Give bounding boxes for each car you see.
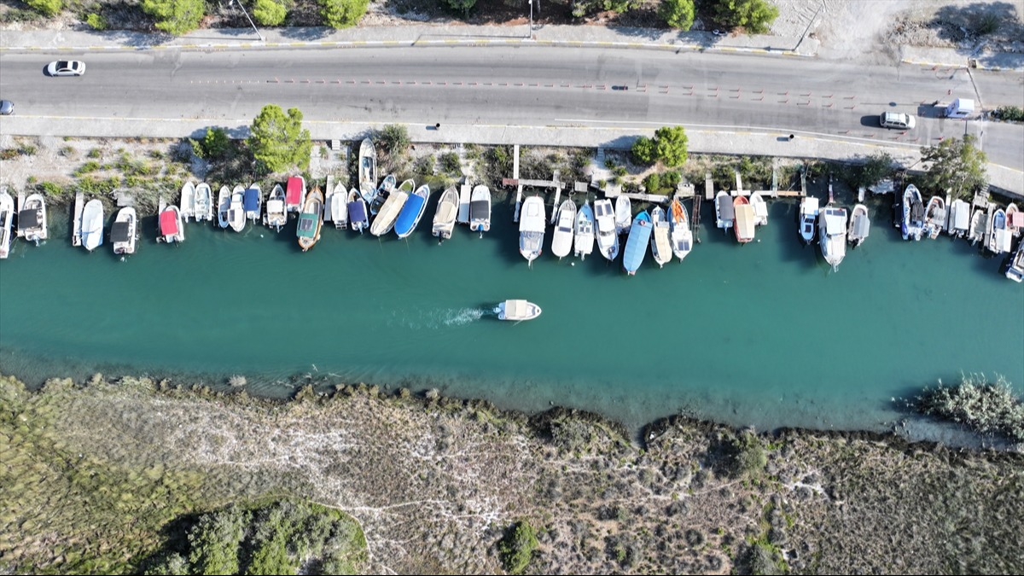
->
[877,110,917,131]
[46,57,87,77]
[0,99,14,118]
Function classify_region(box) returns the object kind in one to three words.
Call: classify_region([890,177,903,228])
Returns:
pier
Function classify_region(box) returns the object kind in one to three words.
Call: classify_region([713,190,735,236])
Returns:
boat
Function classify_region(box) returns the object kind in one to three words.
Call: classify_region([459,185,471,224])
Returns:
pier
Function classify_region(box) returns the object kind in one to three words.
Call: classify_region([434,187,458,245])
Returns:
boat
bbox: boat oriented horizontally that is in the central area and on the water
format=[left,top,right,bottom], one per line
[491,299,541,320]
